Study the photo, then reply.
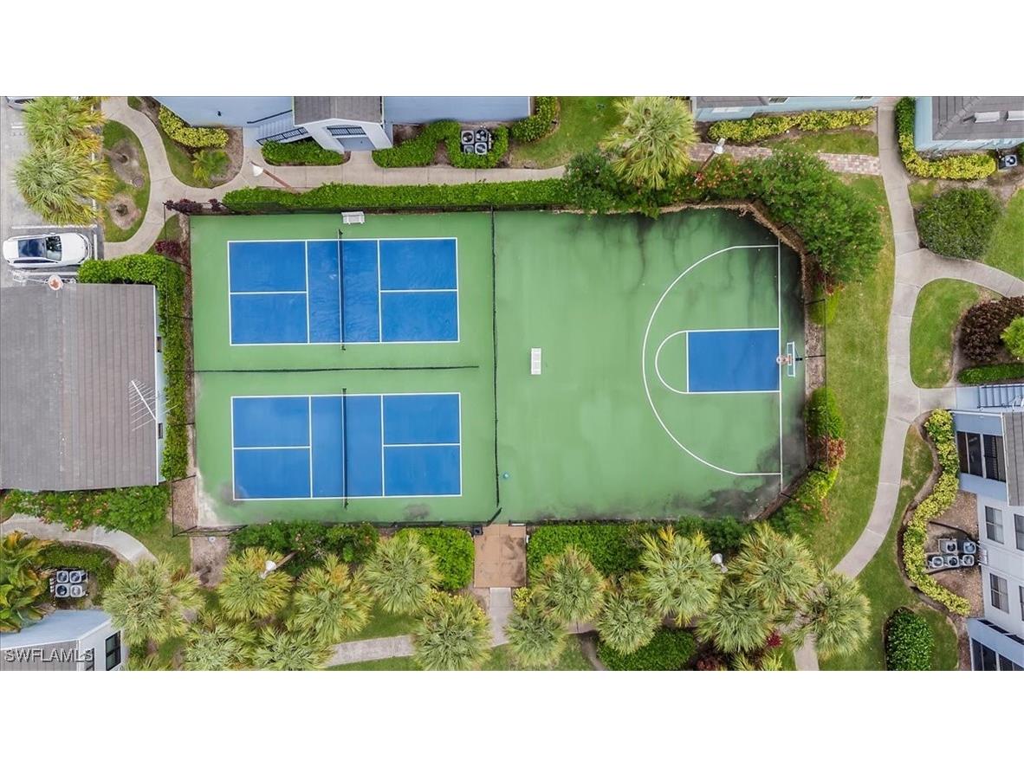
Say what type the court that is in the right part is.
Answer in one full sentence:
Specifically, the court that is in the right part is a basketball court.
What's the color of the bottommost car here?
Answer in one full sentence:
The color of the bottommost car is white.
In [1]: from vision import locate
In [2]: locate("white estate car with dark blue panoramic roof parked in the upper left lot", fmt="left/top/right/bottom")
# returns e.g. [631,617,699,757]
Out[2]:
[6,228,93,269]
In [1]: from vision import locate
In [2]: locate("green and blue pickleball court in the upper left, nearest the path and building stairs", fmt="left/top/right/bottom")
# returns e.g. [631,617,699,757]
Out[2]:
[189,210,495,370]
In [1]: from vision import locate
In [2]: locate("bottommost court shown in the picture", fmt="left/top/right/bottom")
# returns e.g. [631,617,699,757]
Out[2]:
[193,368,498,527]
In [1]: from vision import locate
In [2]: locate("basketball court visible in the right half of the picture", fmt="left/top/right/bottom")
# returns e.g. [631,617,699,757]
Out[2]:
[494,206,808,523]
